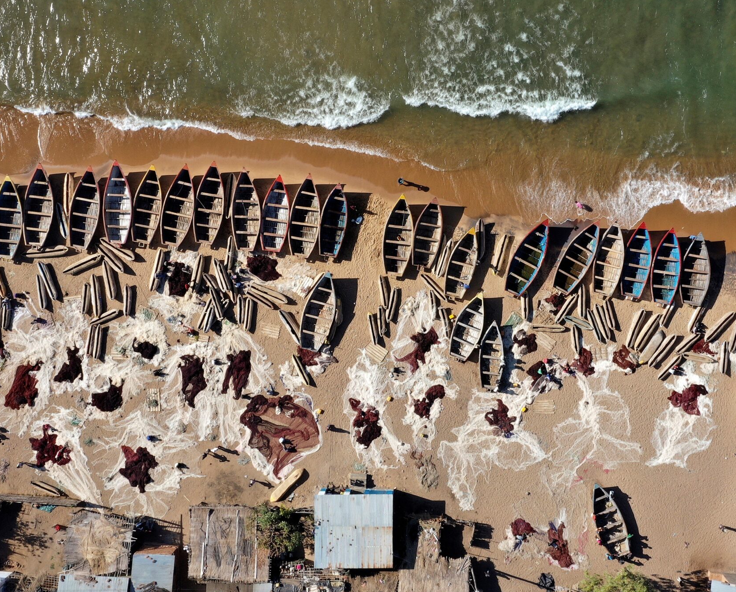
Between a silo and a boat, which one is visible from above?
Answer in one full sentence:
The one in the frame is a boat.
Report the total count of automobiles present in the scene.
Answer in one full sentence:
The picture shows no automobiles.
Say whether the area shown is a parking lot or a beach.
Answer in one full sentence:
This looks like a beach.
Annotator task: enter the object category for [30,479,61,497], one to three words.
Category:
boat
